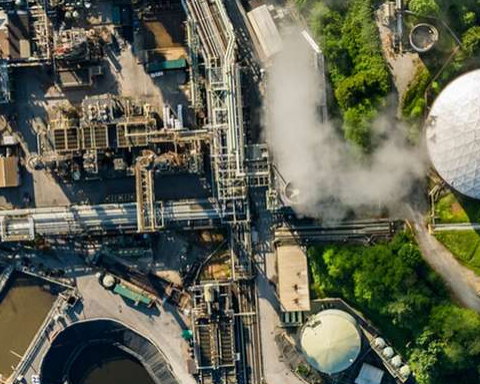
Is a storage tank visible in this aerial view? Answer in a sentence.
Yes, the image includes a storage tank.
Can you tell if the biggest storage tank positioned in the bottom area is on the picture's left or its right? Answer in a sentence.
The biggest storage tank positioned in the bottom area appears in the right half of the scene.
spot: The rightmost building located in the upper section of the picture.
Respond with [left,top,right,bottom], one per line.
[272,48,322,163]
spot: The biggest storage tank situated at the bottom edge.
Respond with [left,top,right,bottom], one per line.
[297,305,363,373]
